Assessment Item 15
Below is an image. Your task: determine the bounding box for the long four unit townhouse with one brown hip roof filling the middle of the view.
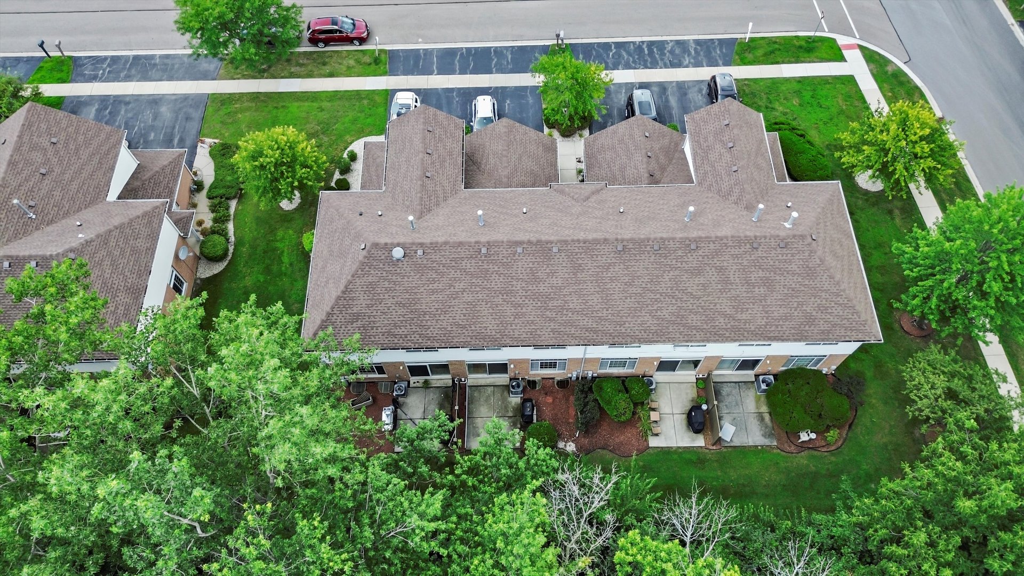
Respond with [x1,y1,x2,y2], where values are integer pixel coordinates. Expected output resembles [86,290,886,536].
[304,97,886,391]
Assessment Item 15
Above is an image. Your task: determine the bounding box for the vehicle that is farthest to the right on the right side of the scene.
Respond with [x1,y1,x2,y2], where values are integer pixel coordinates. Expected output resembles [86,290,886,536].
[702,76,737,105]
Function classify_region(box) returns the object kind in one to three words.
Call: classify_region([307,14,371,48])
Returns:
car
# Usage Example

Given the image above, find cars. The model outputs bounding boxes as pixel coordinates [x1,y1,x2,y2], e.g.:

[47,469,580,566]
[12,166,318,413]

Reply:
[469,95,500,134]
[394,93,422,118]
[307,14,371,48]
[702,76,737,105]
[624,92,660,125]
